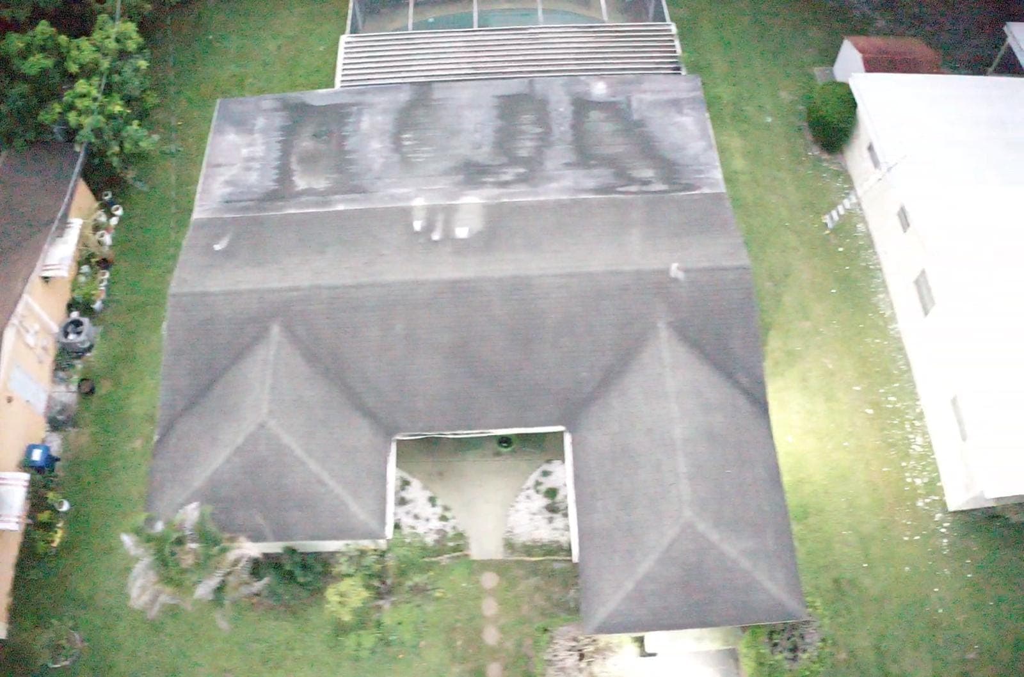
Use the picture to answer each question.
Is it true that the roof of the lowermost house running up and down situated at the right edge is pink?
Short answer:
No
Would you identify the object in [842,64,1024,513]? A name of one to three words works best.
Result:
house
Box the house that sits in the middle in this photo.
[147,75,808,637]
